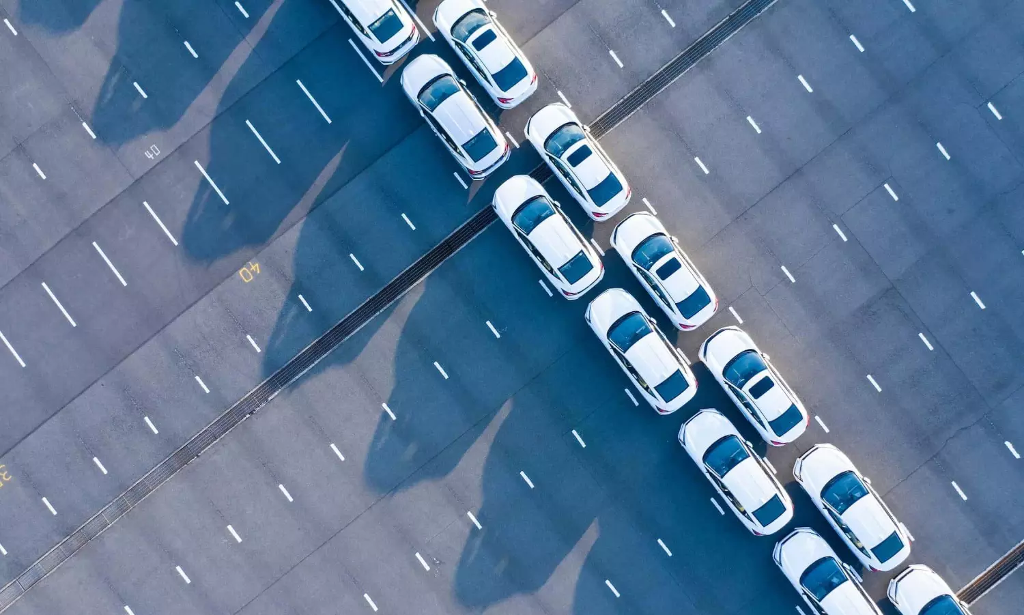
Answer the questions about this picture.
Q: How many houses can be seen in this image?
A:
0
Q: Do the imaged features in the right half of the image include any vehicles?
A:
Yes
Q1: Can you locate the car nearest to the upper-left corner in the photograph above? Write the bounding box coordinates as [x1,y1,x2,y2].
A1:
[330,0,419,63]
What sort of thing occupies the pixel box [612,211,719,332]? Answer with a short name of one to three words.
car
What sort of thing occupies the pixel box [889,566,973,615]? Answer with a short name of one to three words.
car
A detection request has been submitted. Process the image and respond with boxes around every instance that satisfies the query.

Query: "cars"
[889,566,973,615]
[493,176,603,298]
[774,528,883,615]
[401,56,511,179]
[701,326,810,447]
[586,289,698,413]
[684,409,796,535]
[796,443,911,570]
[431,0,538,109]
[612,211,719,332]
[527,102,633,223]
[330,0,419,63]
